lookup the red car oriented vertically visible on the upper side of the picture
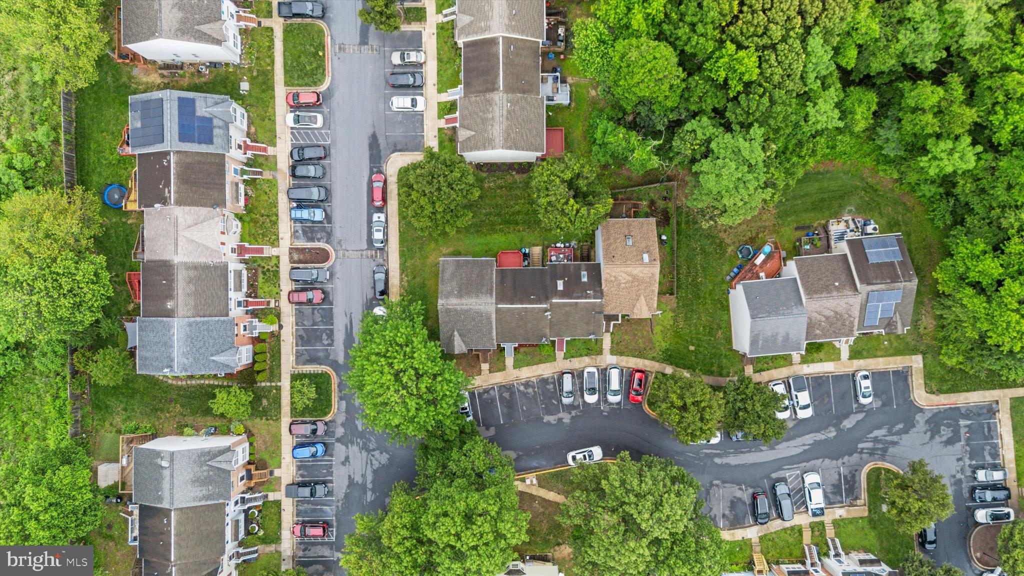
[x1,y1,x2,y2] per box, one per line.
[370,173,387,208]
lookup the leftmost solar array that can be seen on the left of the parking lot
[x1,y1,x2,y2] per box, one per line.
[130,99,162,146]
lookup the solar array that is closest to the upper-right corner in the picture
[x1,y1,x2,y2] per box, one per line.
[863,236,903,262]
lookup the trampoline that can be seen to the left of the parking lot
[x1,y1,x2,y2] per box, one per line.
[96,183,127,207]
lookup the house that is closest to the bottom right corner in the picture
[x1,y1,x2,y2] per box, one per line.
[821,538,900,576]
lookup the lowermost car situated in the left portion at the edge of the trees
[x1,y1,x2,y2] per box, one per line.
[293,521,330,539]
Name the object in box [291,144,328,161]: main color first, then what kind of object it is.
gray car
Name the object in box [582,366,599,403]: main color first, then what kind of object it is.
white car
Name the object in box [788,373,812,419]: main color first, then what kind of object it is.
white truck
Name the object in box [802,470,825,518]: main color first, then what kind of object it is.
white truck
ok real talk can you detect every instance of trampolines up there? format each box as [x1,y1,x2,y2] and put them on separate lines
[736,244,758,260]
[96,183,127,207]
